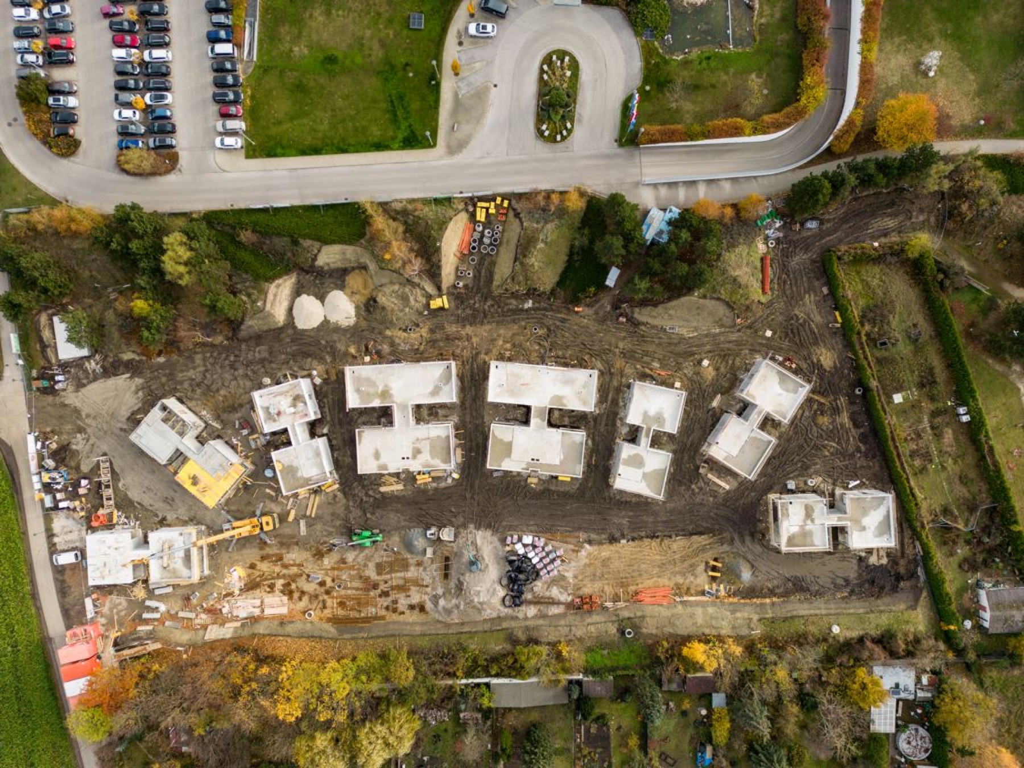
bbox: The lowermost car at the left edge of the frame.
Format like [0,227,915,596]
[50,550,83,565]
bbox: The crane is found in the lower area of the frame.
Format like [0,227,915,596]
[122,500,279,567]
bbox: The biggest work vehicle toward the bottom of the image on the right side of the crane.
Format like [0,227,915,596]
[331,530,381,549]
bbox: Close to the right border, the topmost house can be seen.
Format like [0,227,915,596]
[978,586,1024,633]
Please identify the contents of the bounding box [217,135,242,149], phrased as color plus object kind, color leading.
white car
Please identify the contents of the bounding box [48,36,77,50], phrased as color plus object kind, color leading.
red car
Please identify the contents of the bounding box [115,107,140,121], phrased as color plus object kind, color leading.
white car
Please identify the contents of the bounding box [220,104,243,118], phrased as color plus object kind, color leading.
red car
